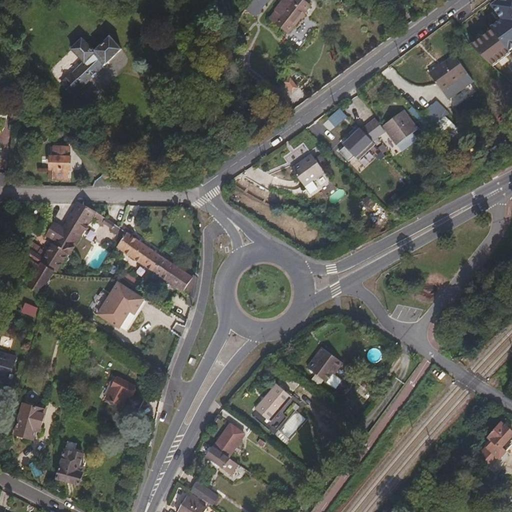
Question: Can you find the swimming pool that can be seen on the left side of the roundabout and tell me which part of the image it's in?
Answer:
left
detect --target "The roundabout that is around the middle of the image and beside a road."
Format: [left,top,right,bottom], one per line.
[216,242,314,342]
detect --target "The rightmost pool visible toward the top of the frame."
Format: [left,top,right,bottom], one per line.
[328,190,347,202]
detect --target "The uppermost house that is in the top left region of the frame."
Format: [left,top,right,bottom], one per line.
[70,35,122,81]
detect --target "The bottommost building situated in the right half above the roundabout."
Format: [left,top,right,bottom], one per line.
[292,154,329,194]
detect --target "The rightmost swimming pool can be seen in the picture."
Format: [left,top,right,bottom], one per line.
[367,347,382,362]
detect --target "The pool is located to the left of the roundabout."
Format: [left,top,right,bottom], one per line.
[87,247,107,268]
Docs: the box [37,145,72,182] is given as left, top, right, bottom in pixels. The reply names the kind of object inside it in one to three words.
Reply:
house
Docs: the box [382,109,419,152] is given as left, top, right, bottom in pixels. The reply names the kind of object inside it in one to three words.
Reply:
house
